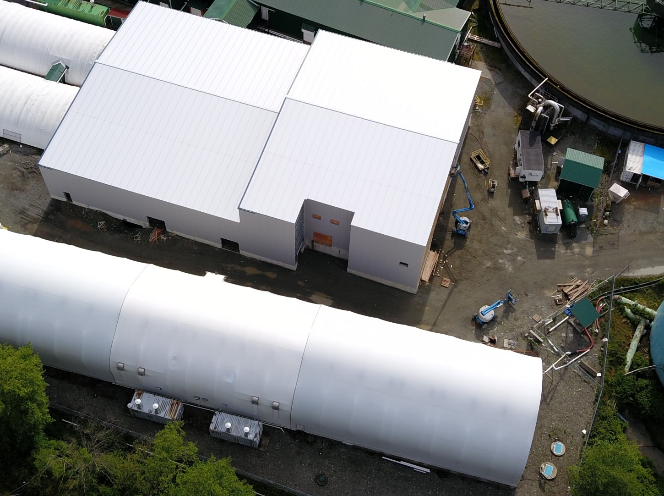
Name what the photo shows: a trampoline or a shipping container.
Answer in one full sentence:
Looking from above, you can make out a shipping container.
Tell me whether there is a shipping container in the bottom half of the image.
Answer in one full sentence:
Yes, looking in the bottom half of the image, one can make out a shipping container.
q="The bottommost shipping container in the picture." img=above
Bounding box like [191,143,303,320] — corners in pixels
[209,412,264,448]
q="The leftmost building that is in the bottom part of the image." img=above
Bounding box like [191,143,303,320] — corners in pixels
[0,231,542,488]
